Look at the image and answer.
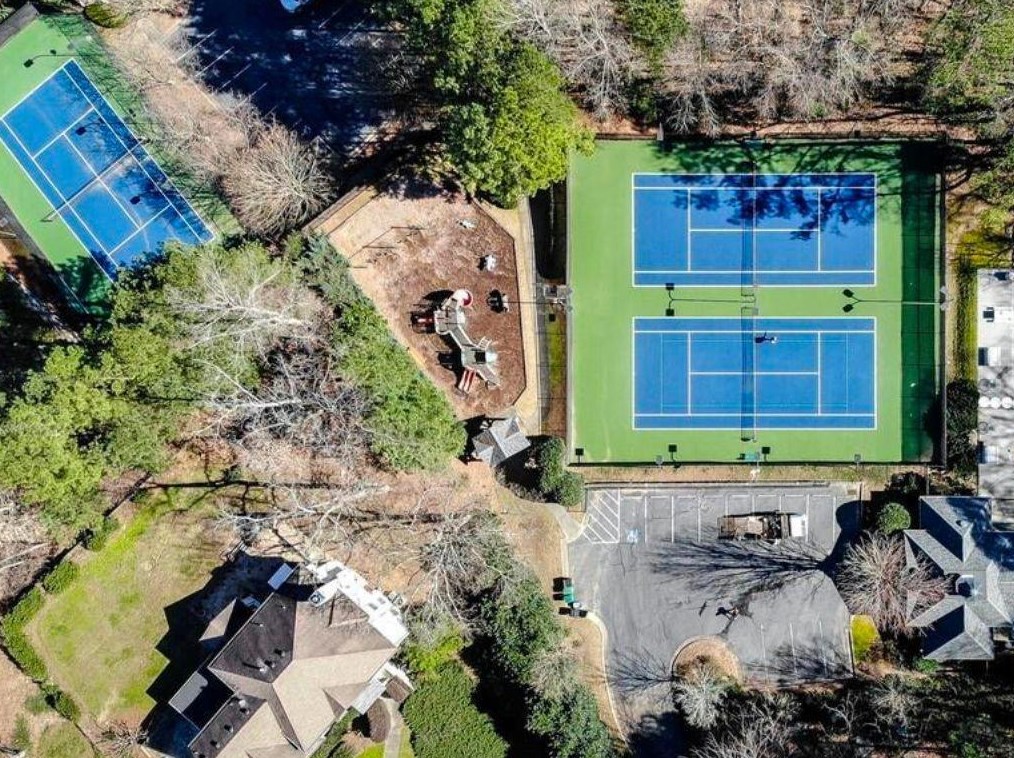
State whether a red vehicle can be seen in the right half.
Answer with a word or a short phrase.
No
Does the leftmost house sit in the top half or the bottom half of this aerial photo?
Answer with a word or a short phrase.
bottom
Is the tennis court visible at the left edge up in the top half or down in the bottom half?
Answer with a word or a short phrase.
top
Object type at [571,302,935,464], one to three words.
tennis court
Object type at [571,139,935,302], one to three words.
tennis court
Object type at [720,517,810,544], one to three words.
truck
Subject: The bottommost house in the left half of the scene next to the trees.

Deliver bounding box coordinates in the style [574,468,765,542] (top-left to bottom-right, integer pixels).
[168,554,417,758]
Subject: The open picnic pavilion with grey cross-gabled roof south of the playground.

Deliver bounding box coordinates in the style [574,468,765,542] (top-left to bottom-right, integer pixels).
[469,414,534,469]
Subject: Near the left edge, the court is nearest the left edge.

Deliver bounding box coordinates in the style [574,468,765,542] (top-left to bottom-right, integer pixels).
[0,15,261,358]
